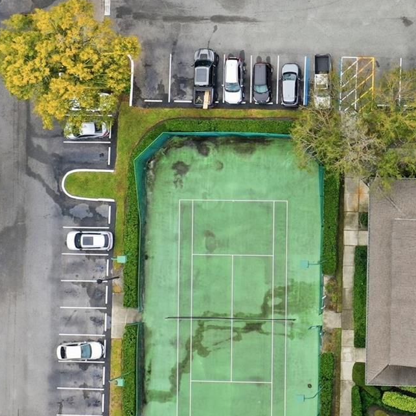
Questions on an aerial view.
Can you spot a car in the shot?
Yes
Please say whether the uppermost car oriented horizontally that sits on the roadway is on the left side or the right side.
left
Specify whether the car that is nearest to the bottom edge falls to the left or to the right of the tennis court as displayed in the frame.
left of it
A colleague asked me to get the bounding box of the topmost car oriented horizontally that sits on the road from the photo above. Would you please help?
[64,118,111,142]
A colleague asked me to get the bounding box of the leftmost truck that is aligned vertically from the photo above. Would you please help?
[192,49,219,108]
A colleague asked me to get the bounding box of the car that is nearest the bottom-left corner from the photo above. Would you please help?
[56,340,105,363]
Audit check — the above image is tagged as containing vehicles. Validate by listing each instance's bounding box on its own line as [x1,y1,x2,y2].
[310,54,333,110]
[192,49,219,108]
[250,62,273,105]
[278,63,302,107]
[221,57,245,105]
[56,340,105,363]
[66,229,114,253]
[64,118,111,142]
